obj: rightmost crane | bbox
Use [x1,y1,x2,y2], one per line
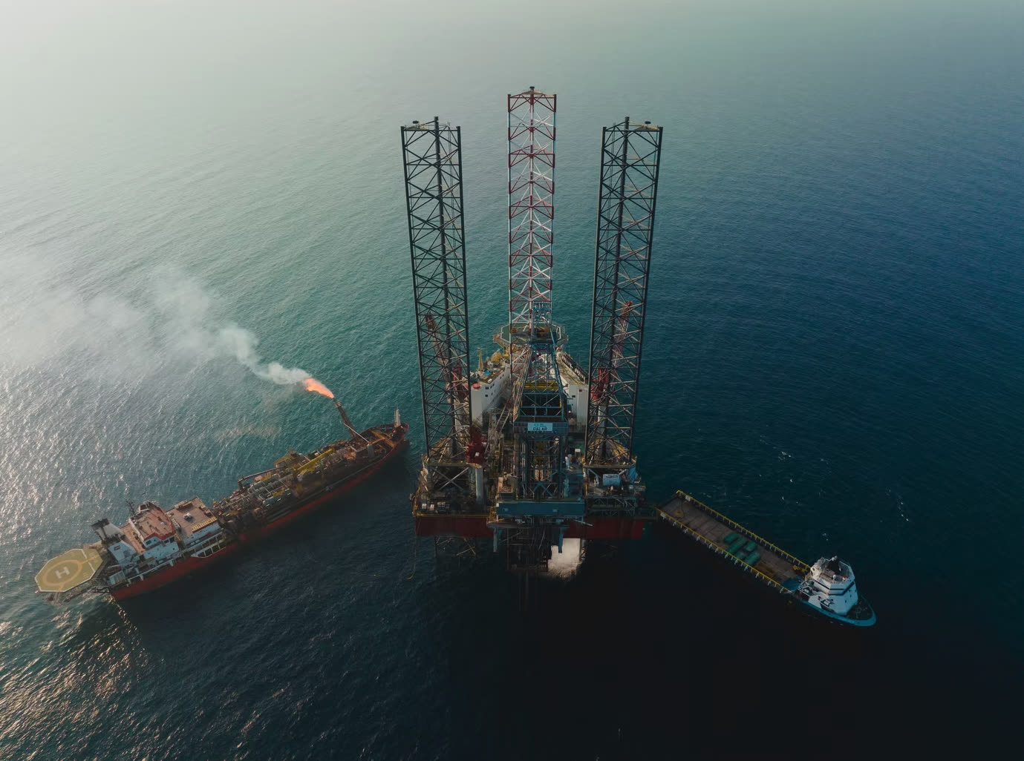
[592,295,632,437]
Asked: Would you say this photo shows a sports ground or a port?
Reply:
port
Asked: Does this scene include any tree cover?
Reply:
No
